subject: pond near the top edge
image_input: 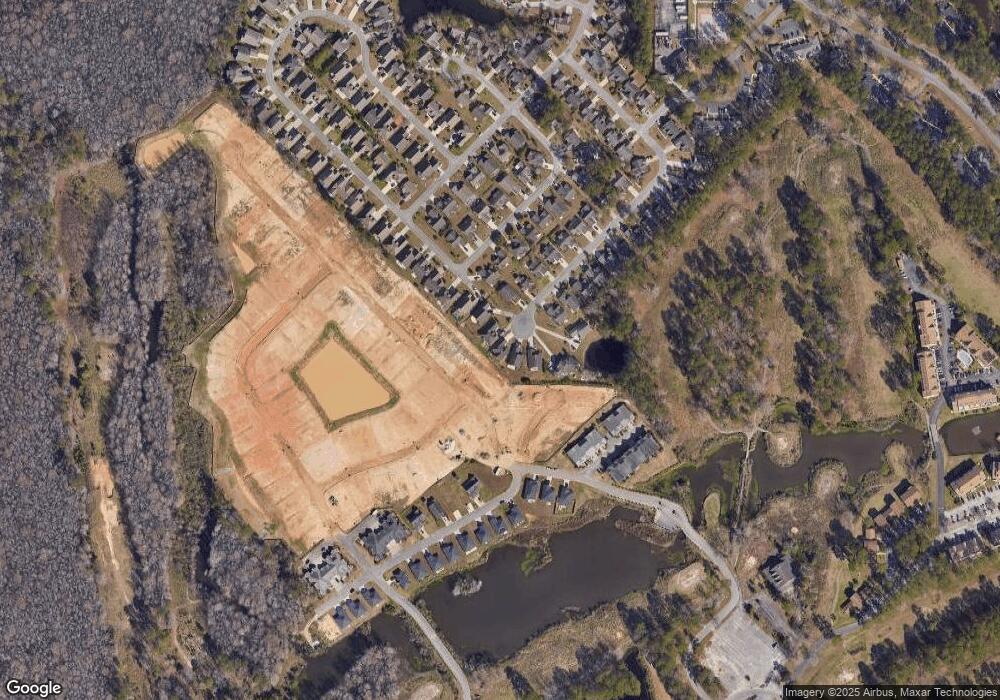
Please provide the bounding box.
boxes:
[395,0,506,34]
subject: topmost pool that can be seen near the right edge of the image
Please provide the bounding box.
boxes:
[956,348,975,370]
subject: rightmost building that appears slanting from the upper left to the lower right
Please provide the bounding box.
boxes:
[957,326,996,367]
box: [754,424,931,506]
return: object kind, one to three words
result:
pond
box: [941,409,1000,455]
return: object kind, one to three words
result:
pond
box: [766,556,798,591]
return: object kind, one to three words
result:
house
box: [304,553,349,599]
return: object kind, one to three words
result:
building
